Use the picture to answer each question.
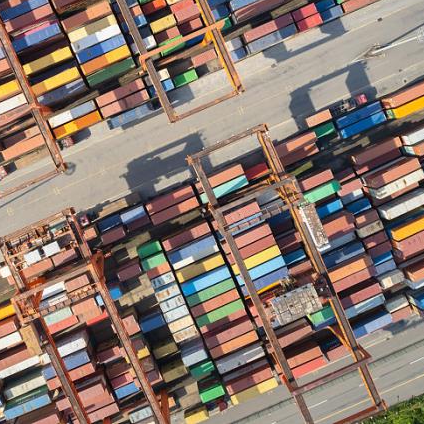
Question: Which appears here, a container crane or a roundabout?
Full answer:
Of the two, only a container crane appears.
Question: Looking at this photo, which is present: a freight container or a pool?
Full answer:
There is a freight container in the scene.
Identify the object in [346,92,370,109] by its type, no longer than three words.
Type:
work vehicle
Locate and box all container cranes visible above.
[114,0,246,125]
[0,18,67,198]
[0,207,183,424]
[187,126,387,424]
